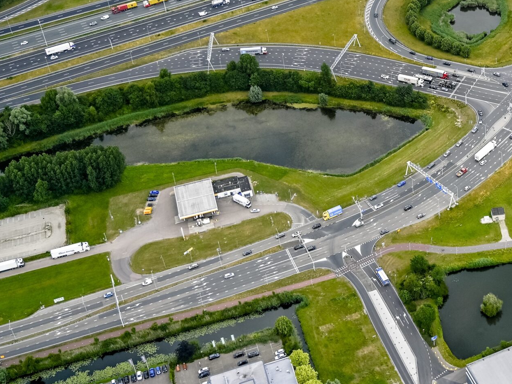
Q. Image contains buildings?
Yes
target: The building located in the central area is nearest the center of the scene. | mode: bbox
[211,176,253,201]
